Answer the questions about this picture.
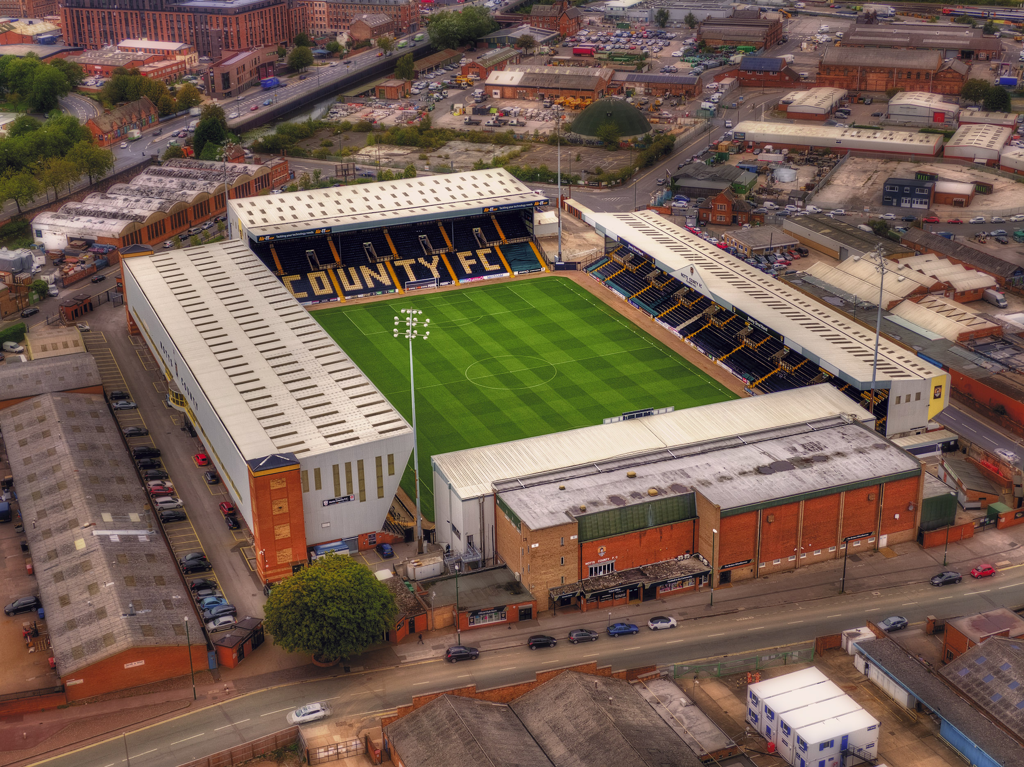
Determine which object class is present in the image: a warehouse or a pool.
warehouse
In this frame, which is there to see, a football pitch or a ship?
football pitch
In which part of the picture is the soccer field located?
center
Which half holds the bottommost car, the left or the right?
left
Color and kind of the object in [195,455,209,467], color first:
red vehicle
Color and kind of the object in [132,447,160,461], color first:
black car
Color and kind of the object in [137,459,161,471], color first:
black vehicle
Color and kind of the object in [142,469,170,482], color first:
black vehicle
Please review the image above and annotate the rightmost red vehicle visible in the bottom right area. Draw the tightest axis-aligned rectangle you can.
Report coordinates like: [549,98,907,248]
[970,564,997,580]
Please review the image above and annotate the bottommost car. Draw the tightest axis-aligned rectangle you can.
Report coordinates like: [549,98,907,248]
[291,702,328,725]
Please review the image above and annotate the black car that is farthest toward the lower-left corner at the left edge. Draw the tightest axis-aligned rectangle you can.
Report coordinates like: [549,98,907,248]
[7,596,40,616]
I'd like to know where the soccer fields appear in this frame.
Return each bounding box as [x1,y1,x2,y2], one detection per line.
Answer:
[310,276,741,518]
